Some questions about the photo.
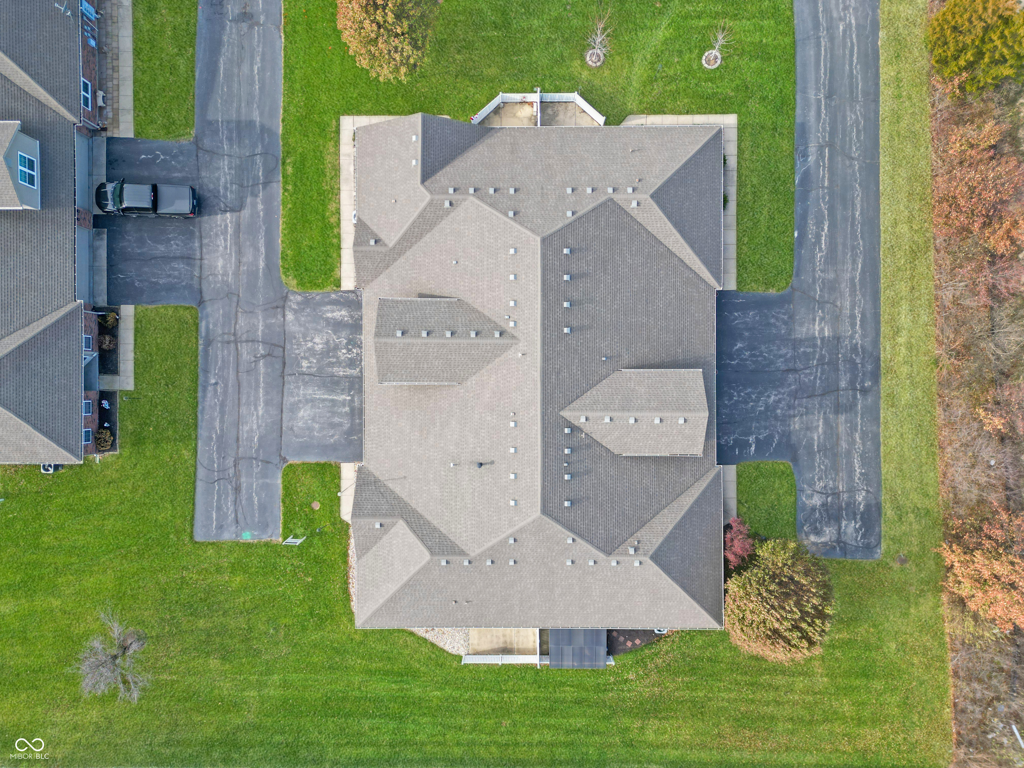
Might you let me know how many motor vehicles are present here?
1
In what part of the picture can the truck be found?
top left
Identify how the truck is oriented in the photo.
from left to right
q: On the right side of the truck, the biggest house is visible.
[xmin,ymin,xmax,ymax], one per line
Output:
[349,111,724,629]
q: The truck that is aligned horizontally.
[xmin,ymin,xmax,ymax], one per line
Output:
[94,173,200,220]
